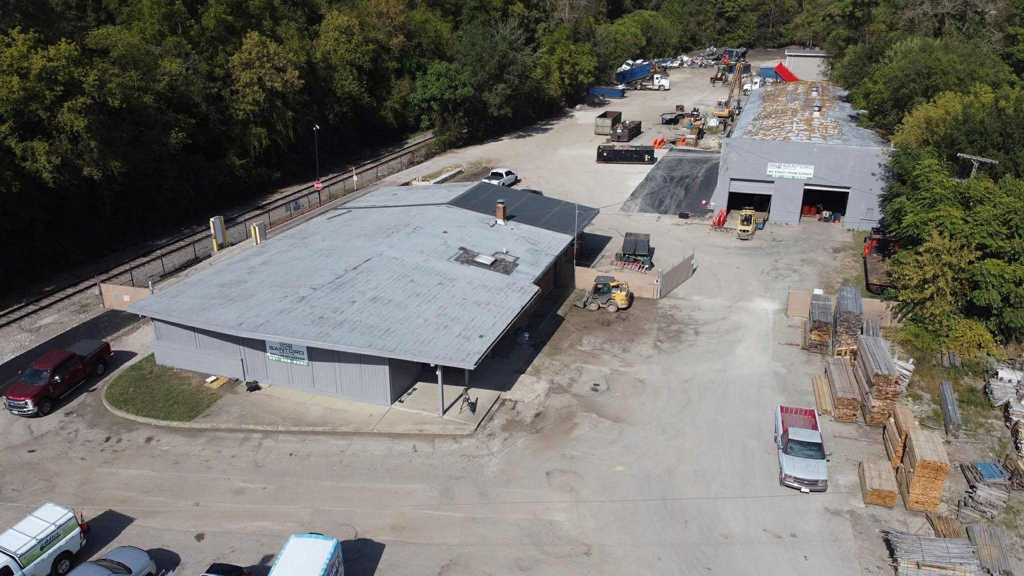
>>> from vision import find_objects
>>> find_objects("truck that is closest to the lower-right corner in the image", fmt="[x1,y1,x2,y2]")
[775,409,837,496]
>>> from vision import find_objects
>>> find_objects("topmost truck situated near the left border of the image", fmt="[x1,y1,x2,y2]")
[0,341,114,414]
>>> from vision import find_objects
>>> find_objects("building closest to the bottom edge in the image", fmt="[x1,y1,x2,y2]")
[124,181,606,416]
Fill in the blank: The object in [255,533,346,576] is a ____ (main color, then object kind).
white van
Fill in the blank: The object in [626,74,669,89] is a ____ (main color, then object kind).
white vehicle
